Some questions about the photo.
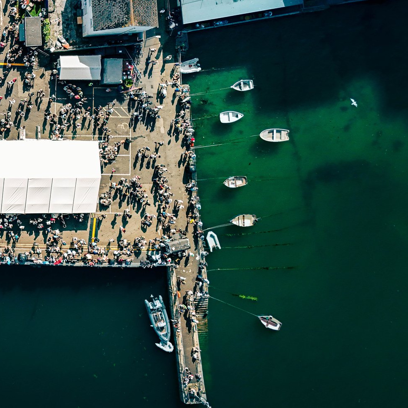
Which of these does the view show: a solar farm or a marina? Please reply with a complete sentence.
What you see here is a marina.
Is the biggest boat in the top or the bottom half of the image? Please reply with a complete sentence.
The biggest boat sits in the bottom half of the picture.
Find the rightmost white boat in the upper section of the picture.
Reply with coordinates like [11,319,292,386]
[260,128,291,142]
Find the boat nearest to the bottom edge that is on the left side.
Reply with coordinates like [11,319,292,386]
[153,339,173,354]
